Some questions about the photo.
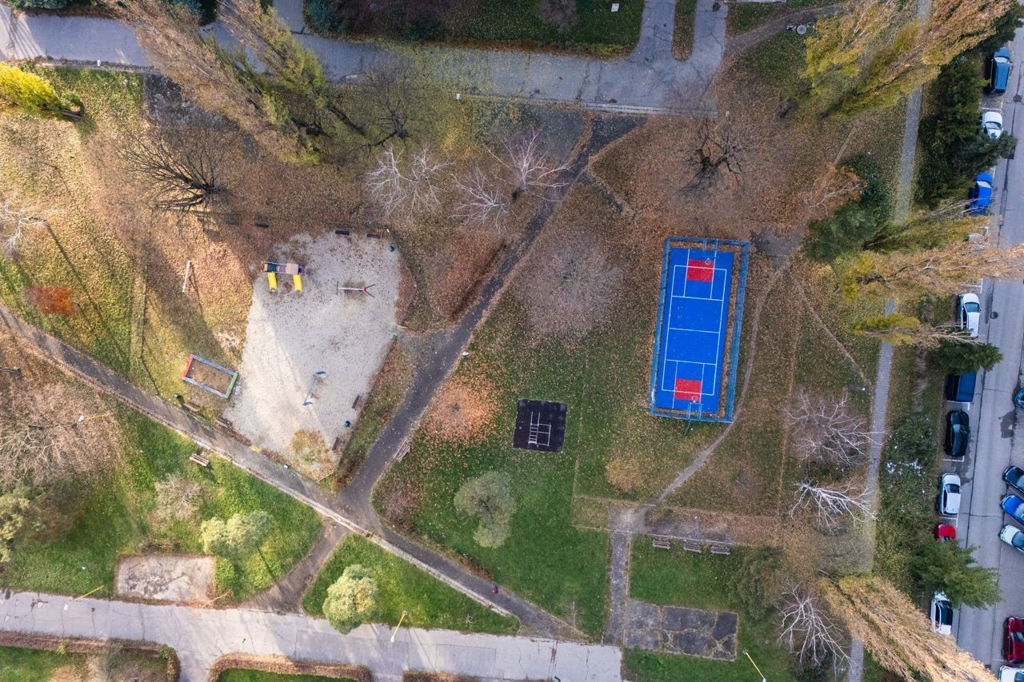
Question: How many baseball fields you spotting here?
0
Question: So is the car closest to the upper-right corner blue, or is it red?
blue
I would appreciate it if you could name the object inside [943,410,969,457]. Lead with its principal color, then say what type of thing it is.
black car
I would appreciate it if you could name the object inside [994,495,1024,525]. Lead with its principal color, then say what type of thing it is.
blue car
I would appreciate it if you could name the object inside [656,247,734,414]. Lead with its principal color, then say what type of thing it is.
blue sports court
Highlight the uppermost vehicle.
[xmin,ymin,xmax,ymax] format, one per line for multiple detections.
[983,48,1013,97]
